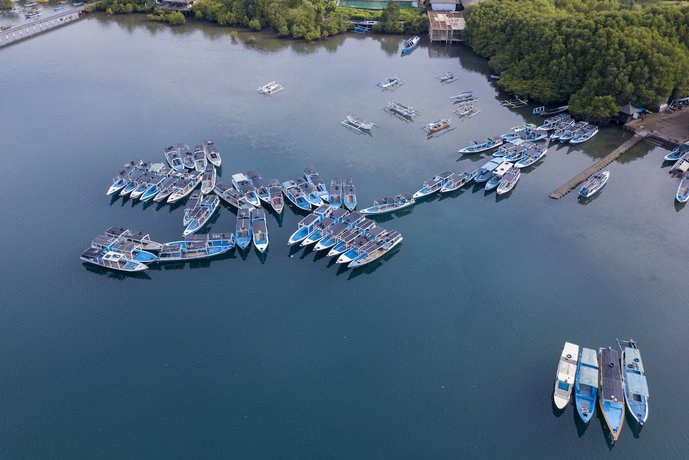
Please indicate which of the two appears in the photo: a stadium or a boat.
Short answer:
boat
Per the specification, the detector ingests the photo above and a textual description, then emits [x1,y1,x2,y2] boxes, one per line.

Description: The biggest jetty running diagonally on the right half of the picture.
[551,133,651,201]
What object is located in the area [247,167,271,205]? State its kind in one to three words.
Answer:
boat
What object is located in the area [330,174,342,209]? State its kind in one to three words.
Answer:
boat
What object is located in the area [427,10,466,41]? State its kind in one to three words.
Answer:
building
